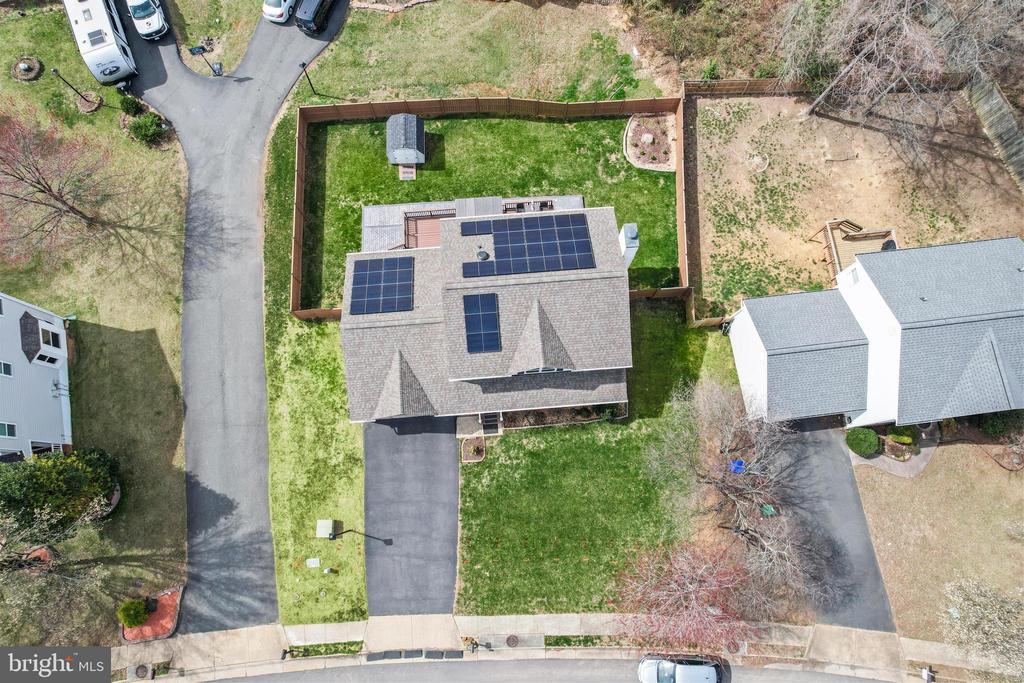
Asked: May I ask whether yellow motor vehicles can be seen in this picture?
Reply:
No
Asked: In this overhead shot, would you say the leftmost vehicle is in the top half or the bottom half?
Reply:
top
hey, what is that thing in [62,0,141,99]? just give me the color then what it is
white vehicle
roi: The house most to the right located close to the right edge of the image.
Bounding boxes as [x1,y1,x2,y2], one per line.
[730,235,1024,451]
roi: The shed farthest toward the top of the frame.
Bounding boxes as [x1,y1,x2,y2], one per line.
[386,112,426,181]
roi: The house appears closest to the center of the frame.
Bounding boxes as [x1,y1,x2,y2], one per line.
[340,205,637,425]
